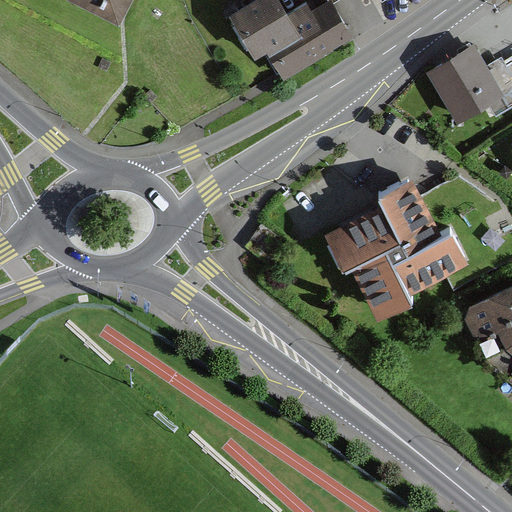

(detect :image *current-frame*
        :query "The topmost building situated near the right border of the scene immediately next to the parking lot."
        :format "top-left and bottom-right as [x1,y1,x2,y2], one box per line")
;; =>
[426,45,504,124]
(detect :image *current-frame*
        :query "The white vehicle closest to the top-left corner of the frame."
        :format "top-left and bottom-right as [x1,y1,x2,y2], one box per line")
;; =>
[148,188,169,212]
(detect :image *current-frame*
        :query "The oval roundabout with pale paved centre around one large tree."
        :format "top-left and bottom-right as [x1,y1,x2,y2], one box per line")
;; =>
[55,178,166,268]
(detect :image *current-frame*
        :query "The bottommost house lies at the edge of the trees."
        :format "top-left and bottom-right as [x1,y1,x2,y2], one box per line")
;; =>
[462,285,512,358]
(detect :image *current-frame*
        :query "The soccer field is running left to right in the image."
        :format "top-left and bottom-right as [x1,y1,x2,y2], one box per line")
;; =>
[0,307,414,512]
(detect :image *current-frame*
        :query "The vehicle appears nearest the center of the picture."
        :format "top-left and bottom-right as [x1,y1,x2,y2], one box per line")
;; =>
[296,191,314,212]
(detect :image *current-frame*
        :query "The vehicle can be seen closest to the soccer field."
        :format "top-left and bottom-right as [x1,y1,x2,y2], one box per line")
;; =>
[68,248,89,264]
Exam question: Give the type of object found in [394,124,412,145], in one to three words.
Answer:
car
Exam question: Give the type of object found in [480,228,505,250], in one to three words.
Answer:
gazebo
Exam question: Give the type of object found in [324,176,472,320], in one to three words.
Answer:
house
